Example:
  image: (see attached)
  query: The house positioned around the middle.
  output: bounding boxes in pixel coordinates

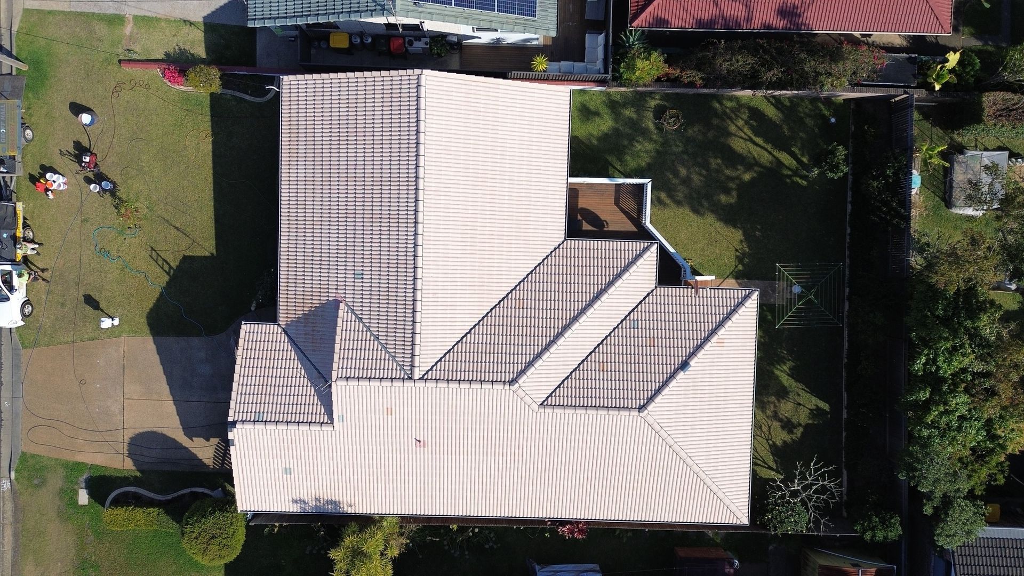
[227,67,761,527]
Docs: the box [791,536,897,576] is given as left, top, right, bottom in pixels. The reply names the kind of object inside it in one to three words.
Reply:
shed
